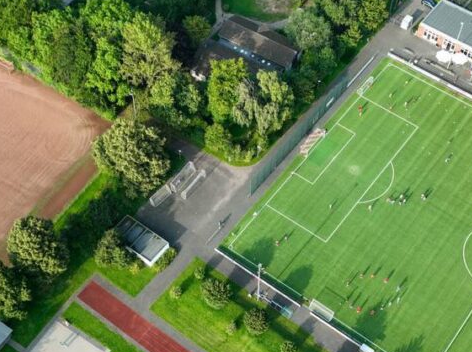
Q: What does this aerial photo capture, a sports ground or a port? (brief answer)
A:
sports ground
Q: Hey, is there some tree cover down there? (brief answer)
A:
Yes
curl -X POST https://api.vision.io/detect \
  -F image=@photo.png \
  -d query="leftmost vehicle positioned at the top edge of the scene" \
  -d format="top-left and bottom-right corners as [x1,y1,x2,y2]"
[401,13,415,30]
